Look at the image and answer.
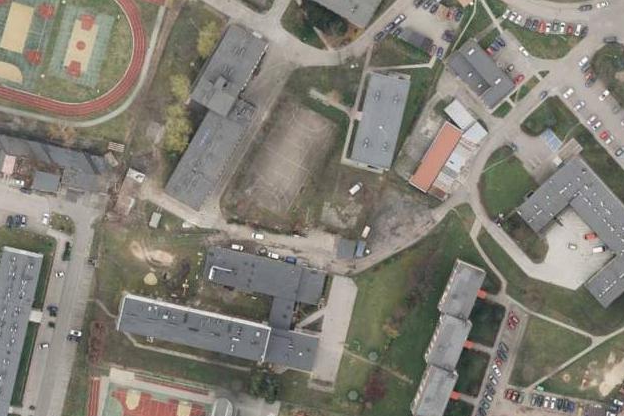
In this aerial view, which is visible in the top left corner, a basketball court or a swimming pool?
basketball court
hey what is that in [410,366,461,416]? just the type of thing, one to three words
building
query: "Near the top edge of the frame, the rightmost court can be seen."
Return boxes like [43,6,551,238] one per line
[48,4,115,89]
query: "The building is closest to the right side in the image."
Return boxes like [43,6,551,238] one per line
[516,136,624,310]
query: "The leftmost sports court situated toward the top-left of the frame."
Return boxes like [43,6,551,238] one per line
[0,0,60,90]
